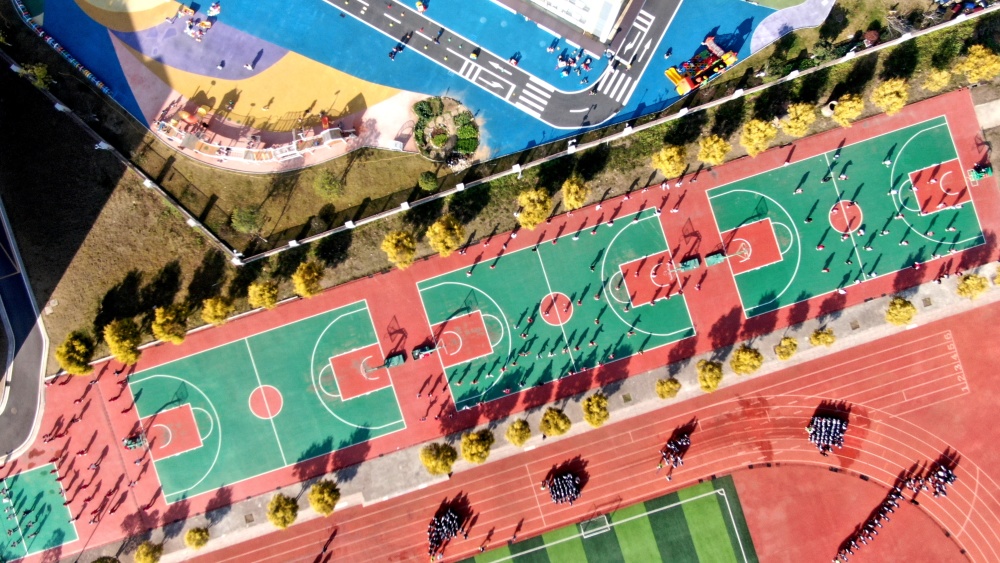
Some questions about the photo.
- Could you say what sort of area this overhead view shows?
sports ground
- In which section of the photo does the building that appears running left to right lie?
top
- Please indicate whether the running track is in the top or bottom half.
bottom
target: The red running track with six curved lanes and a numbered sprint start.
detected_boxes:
[180,303,1000,563]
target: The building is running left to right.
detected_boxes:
[520,0,623,44]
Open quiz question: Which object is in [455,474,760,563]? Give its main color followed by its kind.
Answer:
green sports field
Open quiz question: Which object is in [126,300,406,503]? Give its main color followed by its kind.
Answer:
green basketball court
